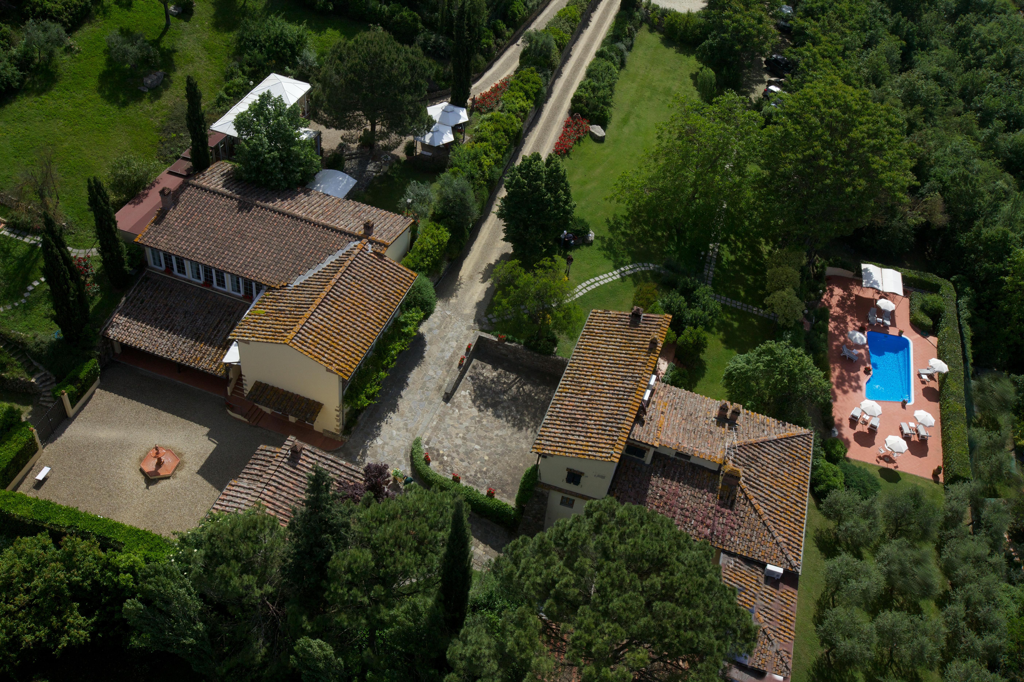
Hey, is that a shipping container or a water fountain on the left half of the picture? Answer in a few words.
water fountain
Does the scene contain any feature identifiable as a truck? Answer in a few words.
No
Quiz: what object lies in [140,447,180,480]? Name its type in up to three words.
fountain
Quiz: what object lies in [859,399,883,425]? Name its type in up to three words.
umbrella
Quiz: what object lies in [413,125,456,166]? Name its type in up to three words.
gazebo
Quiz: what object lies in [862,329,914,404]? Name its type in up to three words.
swimming pool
